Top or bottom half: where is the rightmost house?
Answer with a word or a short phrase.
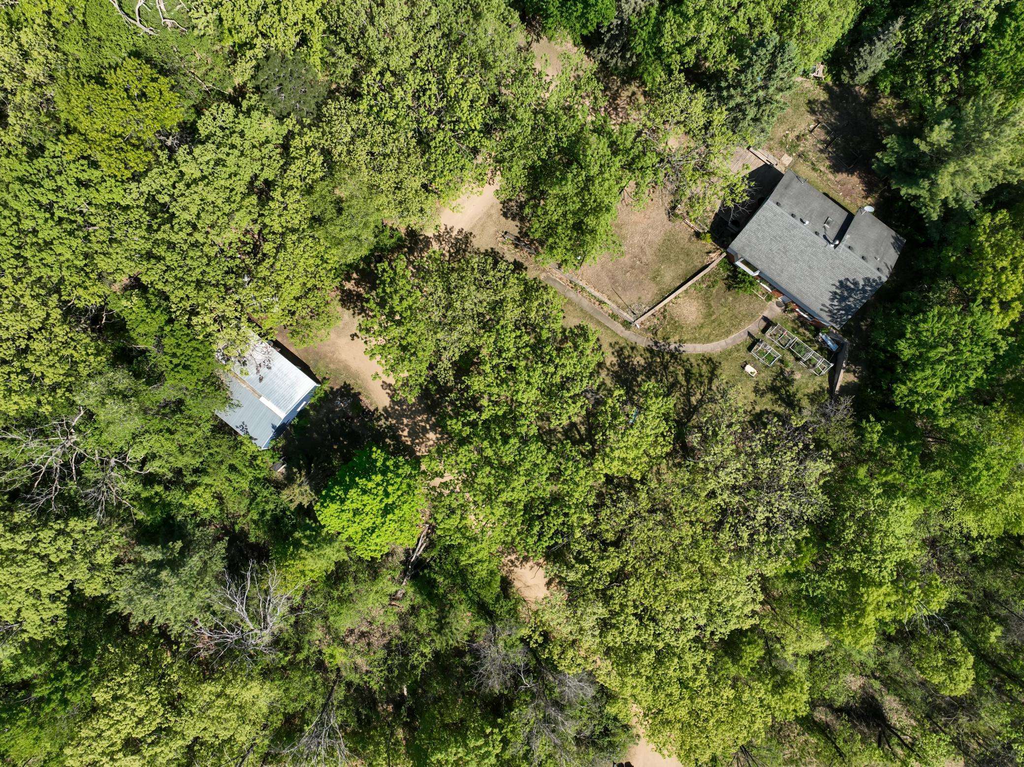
top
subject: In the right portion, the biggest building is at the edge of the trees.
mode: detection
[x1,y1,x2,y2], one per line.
[721,167,910,334]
